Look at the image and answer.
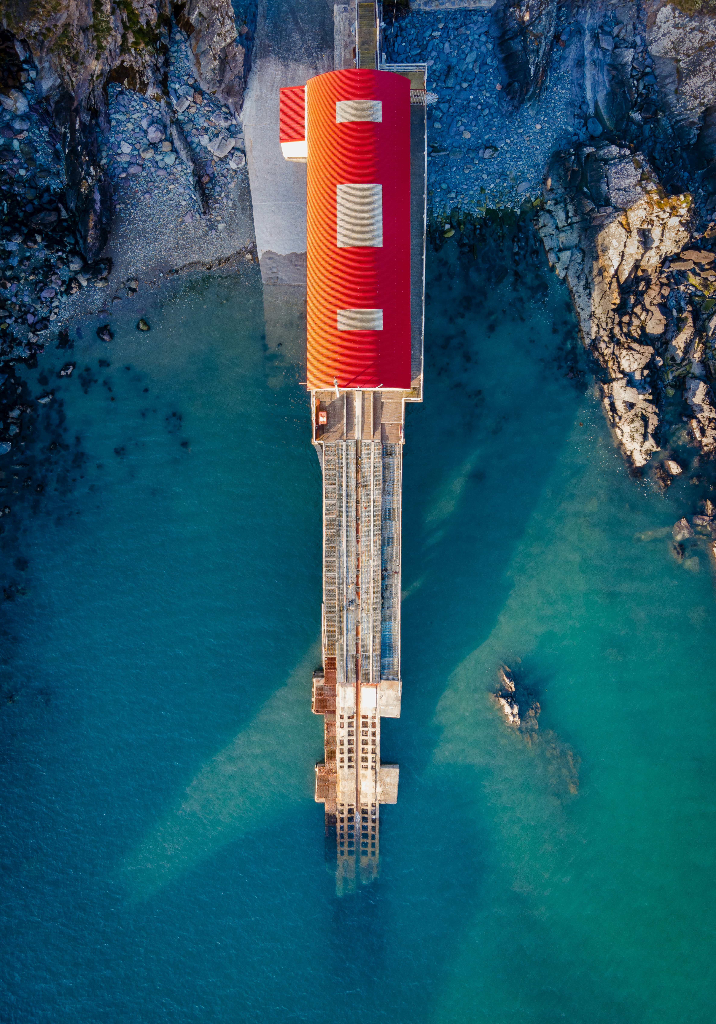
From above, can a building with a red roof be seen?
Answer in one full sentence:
Yes, the picture does show a building with a red roof.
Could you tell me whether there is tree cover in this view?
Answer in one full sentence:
No, tree cover can't be seen anywhere here.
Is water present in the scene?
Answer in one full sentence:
Yes, there's water in this view.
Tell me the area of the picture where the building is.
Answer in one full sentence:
The building sits in the top section of the image.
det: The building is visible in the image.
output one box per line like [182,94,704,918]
[279,69,410,392]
